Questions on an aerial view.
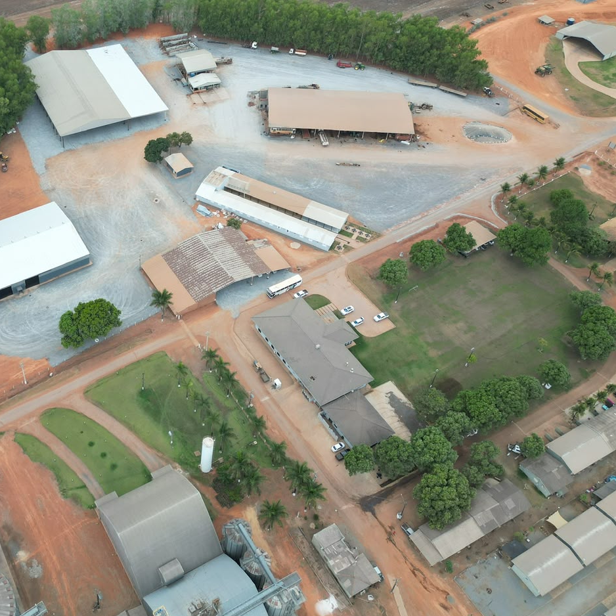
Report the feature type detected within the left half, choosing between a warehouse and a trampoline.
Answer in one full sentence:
You can see a warehouse within the left half.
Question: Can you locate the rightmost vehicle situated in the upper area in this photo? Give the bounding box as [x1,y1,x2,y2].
[522,102,551,122]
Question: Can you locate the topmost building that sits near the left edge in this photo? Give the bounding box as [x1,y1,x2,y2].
[30,43,167,147]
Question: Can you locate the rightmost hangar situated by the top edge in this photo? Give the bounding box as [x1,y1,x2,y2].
[554,22,616,65]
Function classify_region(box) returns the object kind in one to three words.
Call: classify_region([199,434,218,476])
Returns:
water tower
